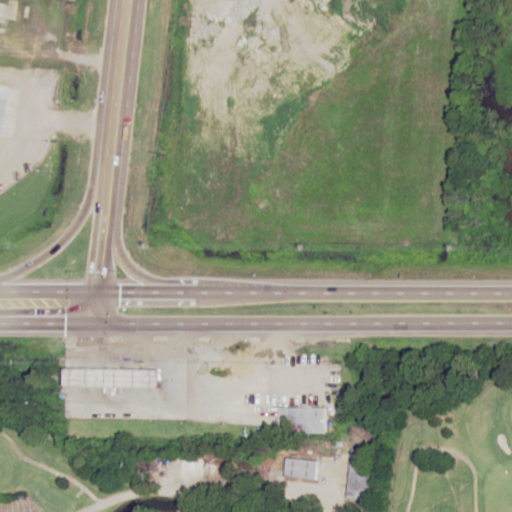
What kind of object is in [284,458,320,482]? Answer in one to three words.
shed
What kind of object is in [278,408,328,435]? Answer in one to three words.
building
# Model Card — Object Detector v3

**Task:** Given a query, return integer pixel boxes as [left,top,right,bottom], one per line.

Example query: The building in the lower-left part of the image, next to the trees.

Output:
[60,368,156,388]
